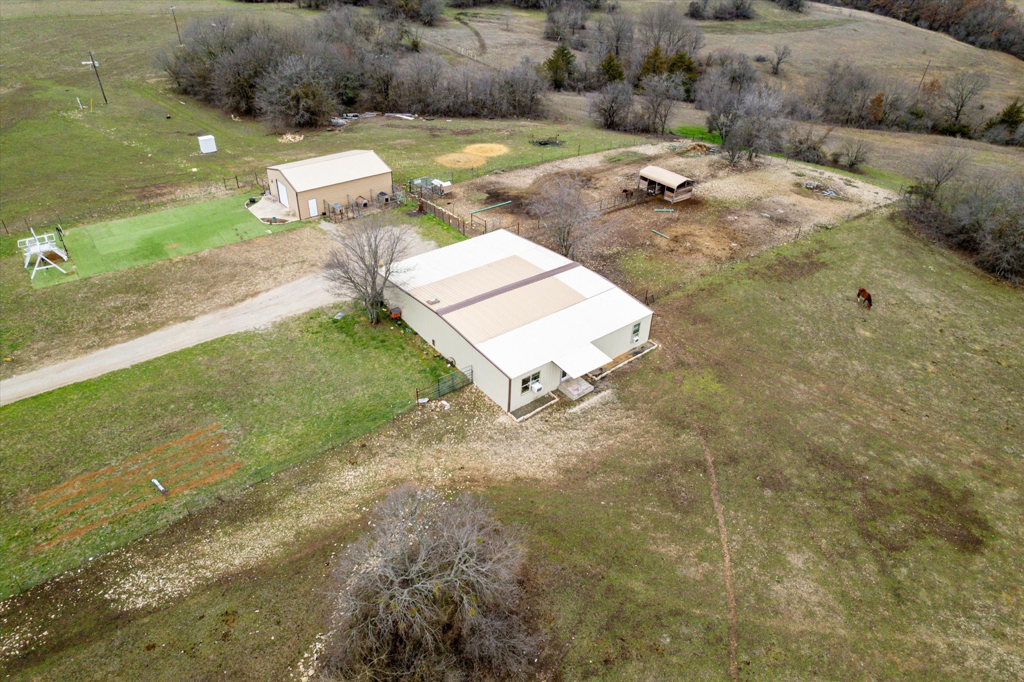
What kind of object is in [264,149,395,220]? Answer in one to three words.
building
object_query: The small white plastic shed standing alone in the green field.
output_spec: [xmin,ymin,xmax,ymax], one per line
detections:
[199,131,224,152]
